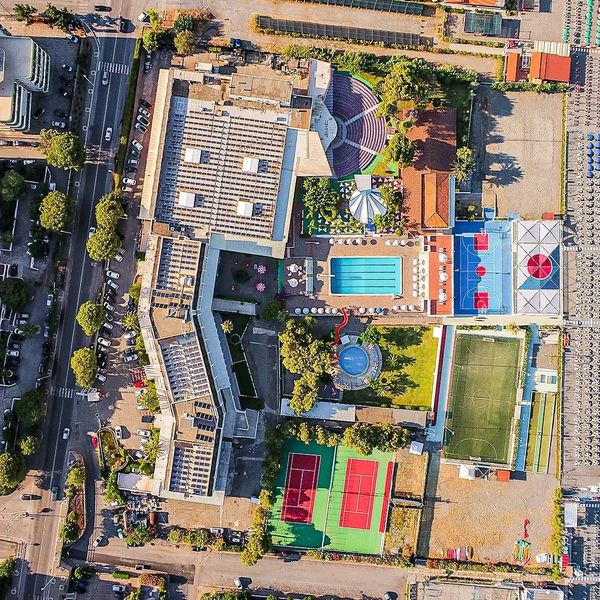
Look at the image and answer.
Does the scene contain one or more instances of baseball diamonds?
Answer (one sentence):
No, I can see no baseball diamond in this picture.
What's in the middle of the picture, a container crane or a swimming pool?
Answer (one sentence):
The one visible in the middle of the picture is a swimming pool.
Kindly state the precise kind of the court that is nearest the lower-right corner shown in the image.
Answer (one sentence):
It looks like the court that is nearest the lower-right corner is a tennis court.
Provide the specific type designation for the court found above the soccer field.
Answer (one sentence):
In the photo, the court found above the soccer field shows up as a basketball court.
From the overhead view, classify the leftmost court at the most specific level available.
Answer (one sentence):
The leftmost court can be classified as a tennis court.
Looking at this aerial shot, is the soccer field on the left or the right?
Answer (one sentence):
The soccer field sits on the right side.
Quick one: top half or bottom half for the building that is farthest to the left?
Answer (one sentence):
Seen from above, the building that is farthest to the left lies in the top half of the view.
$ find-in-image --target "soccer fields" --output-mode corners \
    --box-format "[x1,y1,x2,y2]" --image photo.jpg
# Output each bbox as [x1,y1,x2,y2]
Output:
[444,335,523,466]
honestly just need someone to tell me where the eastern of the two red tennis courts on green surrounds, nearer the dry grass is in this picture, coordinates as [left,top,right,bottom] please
[324,446,398,557]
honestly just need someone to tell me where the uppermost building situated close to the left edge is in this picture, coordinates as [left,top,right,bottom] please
[0,35,53,133]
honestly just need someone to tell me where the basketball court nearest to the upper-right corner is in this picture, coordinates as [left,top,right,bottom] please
[454,221,513,315]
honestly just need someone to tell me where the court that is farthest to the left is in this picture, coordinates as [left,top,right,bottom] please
[266,439,338,550]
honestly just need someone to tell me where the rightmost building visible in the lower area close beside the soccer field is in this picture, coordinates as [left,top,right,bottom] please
[533,369,558,392]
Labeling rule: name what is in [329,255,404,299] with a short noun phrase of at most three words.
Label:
swimming pool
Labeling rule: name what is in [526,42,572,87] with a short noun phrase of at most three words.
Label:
building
